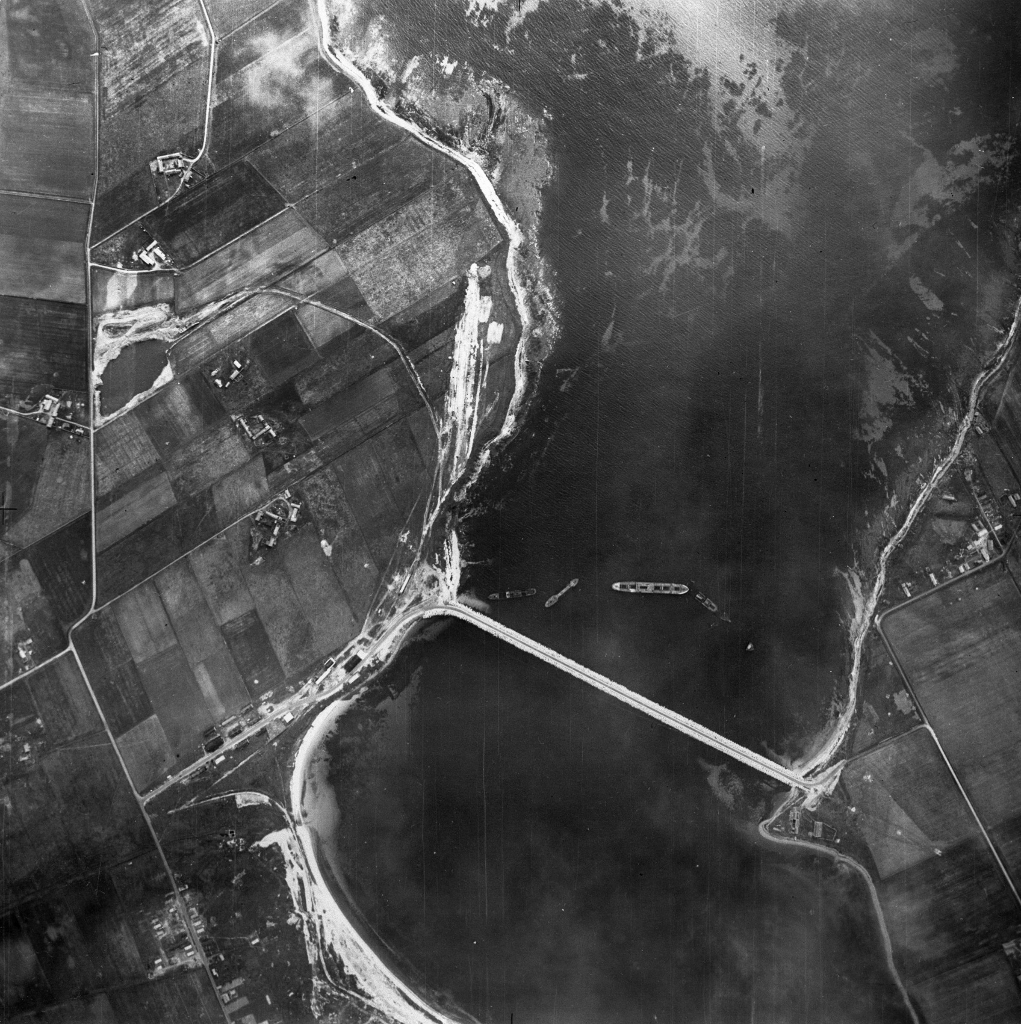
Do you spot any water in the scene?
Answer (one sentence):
Yes, water can be seen from above here.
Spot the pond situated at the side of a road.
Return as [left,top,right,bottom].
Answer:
[96,338,171,416]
